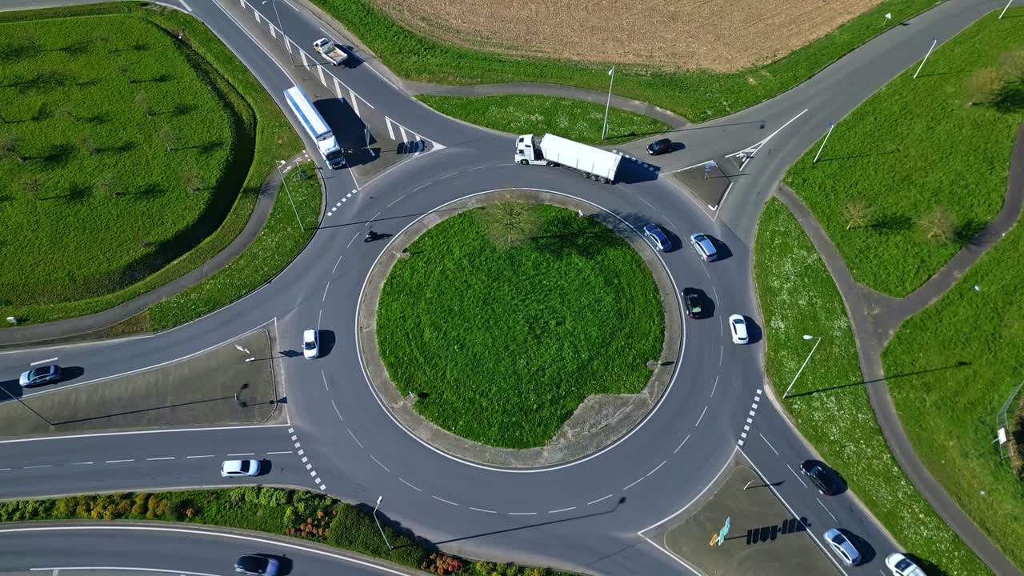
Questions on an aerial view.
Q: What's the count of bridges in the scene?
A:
0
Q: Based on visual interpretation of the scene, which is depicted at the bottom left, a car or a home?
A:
car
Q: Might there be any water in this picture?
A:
No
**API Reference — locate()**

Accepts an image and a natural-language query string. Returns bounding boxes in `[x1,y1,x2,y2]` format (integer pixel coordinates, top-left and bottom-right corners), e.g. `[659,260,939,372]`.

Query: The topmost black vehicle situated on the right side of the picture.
[645,136,674,155]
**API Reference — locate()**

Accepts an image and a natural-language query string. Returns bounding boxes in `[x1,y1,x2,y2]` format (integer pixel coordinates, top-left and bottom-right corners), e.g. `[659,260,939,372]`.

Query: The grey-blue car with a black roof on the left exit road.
[20,365,62,388]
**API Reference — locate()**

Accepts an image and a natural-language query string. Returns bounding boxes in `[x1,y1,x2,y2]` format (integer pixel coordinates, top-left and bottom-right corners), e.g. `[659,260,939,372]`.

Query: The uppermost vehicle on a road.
[315,36,346,62]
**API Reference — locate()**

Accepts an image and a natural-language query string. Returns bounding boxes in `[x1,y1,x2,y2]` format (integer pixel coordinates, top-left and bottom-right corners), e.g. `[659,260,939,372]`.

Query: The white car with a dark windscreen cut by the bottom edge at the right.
[884,550,922,576]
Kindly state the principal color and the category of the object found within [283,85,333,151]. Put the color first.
white trailer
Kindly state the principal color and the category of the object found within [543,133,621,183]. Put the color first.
white trailer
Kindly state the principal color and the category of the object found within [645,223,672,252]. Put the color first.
blue car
